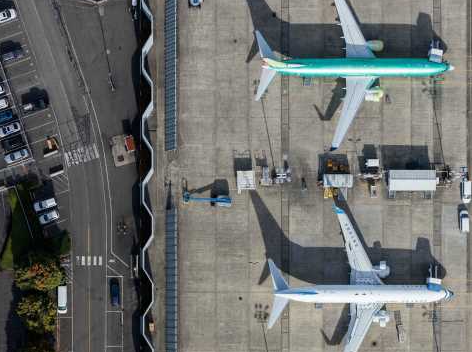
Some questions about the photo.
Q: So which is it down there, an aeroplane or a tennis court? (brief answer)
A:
aeroplane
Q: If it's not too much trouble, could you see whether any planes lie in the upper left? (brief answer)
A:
No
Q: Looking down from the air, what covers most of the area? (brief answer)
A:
paved ground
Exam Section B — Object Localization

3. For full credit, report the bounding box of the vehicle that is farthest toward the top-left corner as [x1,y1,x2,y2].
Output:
[0,10,16,24]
